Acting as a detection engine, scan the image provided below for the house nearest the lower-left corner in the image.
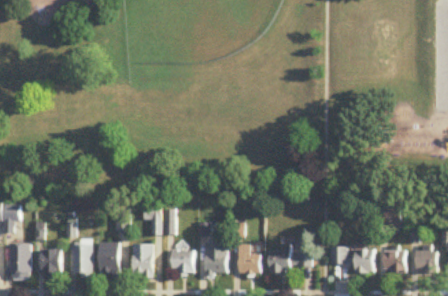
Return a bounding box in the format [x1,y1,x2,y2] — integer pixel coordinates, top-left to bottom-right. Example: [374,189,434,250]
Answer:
[13,244,34,280]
